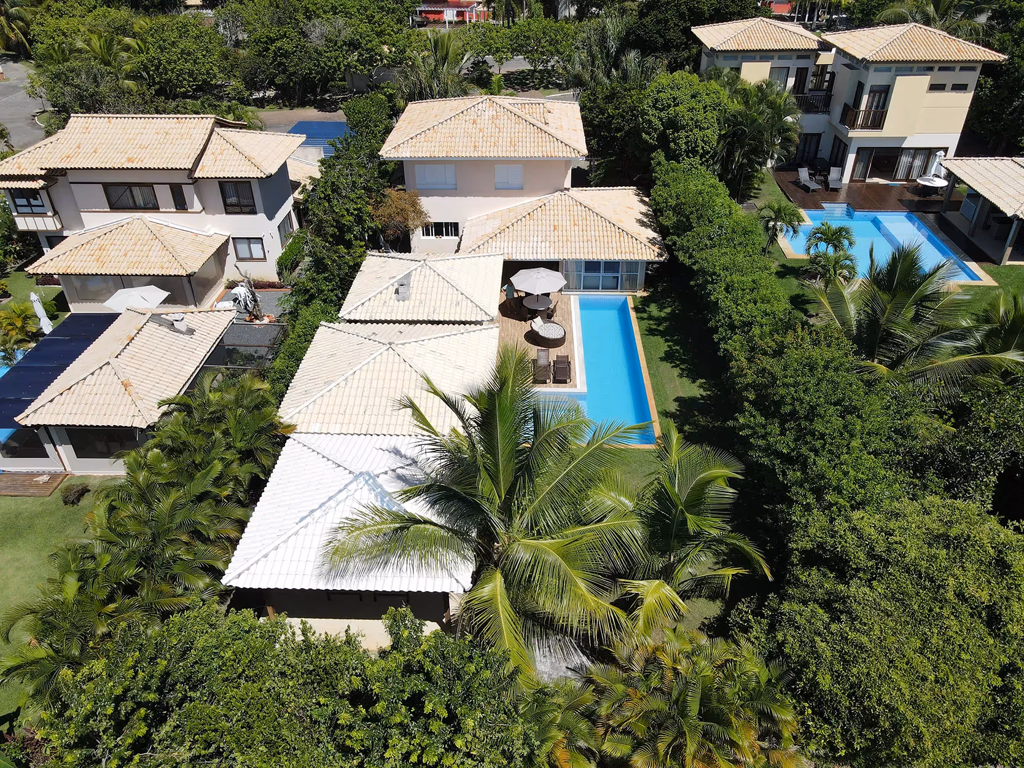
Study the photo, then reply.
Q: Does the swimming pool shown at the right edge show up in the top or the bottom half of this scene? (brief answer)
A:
top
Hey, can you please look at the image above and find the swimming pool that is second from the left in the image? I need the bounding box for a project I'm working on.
[507,294,664,450]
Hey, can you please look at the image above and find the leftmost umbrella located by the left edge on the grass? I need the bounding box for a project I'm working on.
[29,290,51,335]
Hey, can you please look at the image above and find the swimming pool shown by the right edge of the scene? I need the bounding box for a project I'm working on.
[766,203,998,286]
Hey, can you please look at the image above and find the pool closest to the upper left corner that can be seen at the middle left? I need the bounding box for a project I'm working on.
[0,346,29,374]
